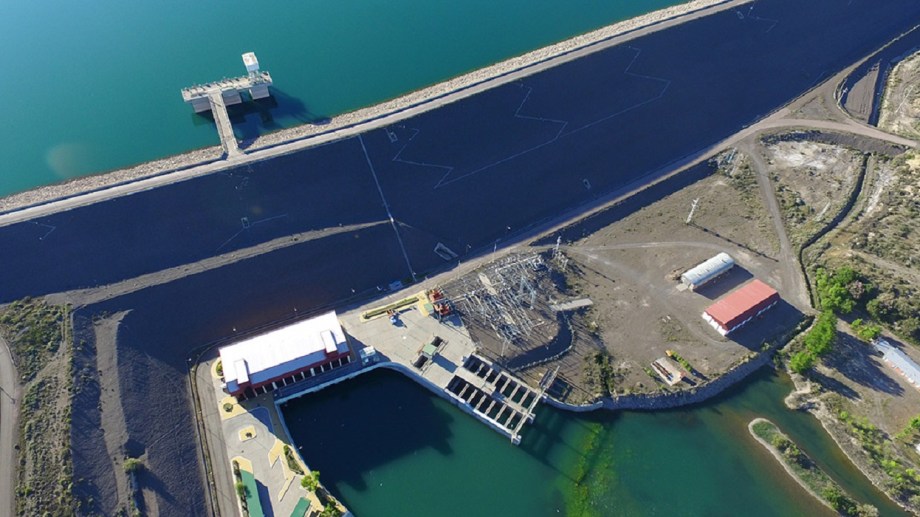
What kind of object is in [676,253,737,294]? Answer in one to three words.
shed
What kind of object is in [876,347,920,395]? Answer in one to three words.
house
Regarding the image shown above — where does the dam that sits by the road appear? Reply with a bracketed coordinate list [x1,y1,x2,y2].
[0,0,920,369]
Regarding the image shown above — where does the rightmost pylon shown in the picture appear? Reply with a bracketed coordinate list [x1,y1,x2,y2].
[684,197,699,225]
